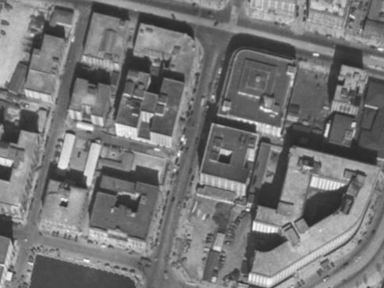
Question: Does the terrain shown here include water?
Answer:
No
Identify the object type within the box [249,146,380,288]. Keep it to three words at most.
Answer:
building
